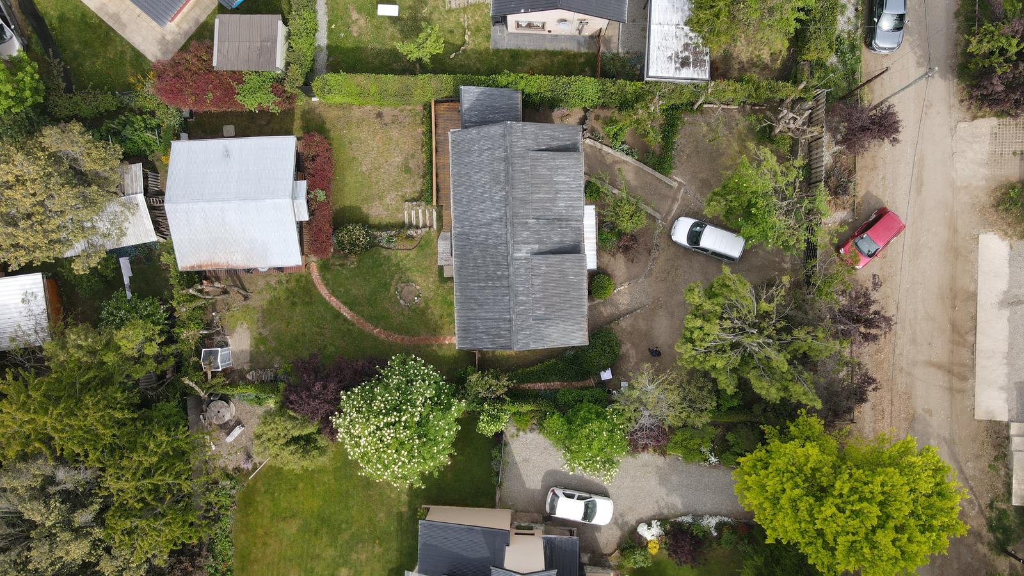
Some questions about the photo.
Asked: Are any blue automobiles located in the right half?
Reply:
No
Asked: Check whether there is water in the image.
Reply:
No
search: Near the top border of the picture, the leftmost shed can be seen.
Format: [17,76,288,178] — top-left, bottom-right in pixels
[131,0,203,37]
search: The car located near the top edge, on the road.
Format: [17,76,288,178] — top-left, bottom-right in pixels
[863,0,905,52]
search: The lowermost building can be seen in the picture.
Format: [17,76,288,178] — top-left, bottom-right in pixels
[404,503,579,576]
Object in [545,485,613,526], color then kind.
white car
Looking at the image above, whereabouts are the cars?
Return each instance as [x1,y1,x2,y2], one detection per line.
[545,485,613,526]
[837,207,909,269]
[863,0,905,52]
[668,217,747,263]
[0,0,31,62]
